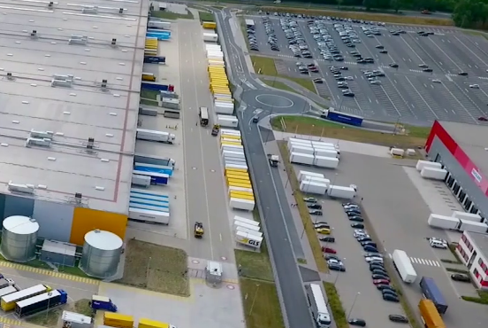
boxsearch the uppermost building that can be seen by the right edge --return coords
[425,126,488,235]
